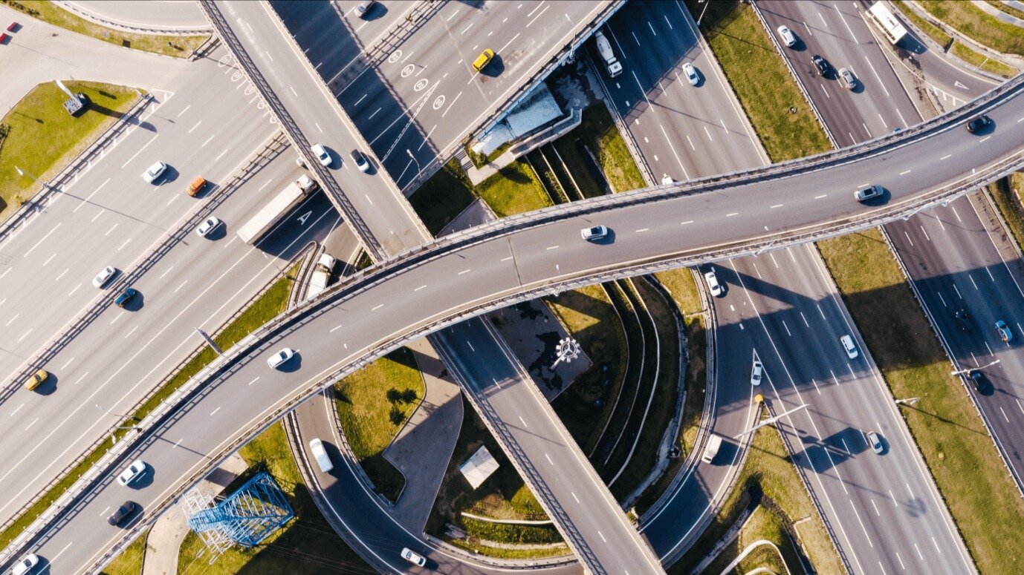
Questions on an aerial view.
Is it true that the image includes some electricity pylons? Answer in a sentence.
Yes, an electricity pylon can be made out from above.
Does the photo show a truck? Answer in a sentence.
Yes, you can see a truck in this photo.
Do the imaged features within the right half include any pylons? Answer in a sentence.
No, there's no pylon to be seen within the right half.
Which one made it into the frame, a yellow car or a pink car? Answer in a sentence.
Visible in the photo is a yellow car.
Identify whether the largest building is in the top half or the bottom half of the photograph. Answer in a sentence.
The largest building sits in the top half of the picture.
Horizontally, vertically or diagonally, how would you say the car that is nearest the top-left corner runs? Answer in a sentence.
In this picture, the car that is nearest the top-left corner is oriented diagonally.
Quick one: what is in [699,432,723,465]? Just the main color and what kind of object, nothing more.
white truck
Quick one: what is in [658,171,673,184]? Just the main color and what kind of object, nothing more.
white vehicle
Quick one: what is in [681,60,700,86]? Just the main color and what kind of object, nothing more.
white car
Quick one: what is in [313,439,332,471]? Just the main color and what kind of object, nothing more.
white vehicle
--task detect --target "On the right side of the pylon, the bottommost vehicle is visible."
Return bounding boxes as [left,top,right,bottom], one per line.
[400,547,426,567]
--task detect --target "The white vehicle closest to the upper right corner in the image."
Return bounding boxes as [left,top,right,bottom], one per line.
[865,0,907,46]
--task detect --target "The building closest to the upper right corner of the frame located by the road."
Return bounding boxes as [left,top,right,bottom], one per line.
[507,82,563,136]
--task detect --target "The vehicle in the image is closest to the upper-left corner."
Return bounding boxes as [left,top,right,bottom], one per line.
[142,160,167,184]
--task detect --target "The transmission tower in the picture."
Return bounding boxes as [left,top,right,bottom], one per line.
[175,474,295,562]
